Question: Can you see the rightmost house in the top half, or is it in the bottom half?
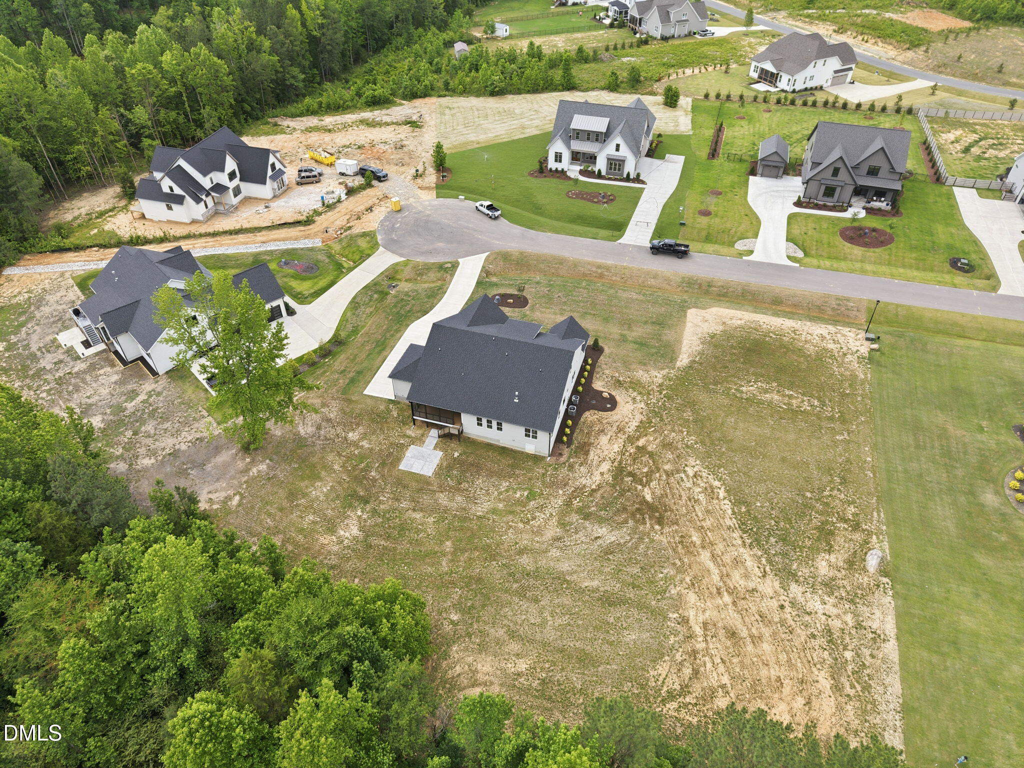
top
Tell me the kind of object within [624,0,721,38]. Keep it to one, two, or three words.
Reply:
house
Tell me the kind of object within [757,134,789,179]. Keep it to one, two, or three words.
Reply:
building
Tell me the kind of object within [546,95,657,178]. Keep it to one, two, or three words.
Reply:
house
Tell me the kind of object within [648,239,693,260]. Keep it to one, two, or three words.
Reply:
truck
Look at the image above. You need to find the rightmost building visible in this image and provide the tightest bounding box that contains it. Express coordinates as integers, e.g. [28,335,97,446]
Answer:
[987,141,1024,202]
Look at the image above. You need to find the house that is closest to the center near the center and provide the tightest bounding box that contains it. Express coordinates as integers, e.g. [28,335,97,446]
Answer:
[388,292,590,457]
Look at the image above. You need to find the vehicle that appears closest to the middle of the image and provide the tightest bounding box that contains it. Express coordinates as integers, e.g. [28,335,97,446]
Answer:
[471,201,504,219]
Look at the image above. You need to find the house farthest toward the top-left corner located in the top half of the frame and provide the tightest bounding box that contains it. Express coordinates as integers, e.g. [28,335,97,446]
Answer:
[128,126,292,223]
